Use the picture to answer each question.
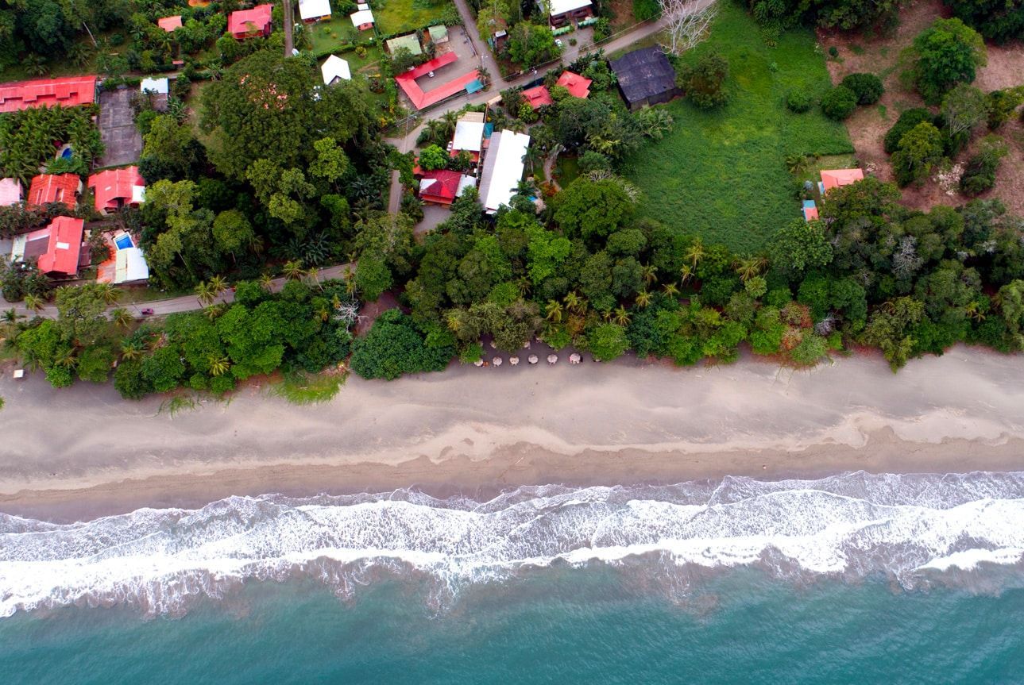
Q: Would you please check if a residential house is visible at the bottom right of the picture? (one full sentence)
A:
No, no residential house is visible at the bottom right of the picture.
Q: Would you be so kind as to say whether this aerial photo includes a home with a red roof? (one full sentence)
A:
Yes, the picture does show a home with a red roof.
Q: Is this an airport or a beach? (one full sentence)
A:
The area seen from above is a beach.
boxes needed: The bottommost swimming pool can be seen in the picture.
[115,233,134,249]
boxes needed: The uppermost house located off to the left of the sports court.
[0,75,96,112]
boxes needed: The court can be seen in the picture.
[95,87,142,167]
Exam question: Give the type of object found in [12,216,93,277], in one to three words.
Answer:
house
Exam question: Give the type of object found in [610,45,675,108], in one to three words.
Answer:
barn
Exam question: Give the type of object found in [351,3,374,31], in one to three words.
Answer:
house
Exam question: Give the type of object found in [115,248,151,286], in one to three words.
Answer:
shed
